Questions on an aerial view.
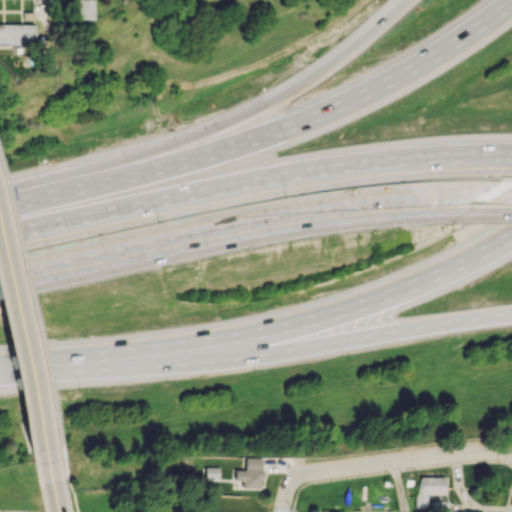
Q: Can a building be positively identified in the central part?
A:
No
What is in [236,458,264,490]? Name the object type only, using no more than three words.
house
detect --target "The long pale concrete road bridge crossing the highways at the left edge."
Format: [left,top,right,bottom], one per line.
[0,138,66,450]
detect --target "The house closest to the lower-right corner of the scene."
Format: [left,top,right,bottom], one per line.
[418,478,450,512]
